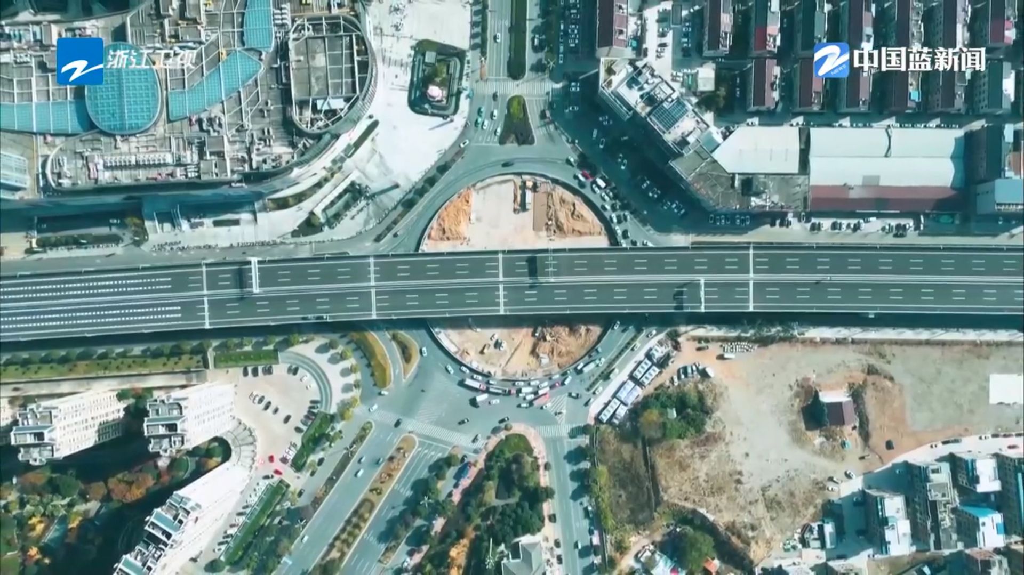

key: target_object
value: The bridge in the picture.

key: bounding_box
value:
[0,245,1024,342]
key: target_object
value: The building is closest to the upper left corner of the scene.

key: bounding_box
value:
[0,0,382,234]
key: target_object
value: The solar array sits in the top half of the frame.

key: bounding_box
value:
[651,100,690,131]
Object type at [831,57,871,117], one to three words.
building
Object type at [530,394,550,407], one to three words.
vehicle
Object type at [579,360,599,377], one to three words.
vehicle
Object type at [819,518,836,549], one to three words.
house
